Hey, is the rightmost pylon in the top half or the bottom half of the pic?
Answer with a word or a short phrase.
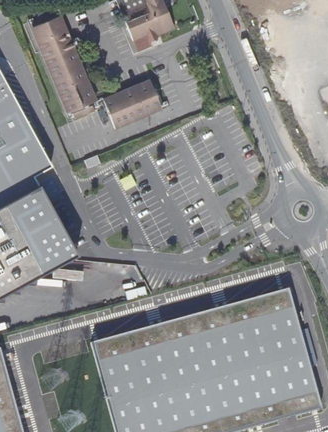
bottom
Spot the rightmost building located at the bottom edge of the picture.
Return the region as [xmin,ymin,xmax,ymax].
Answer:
[93,288,322,432]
